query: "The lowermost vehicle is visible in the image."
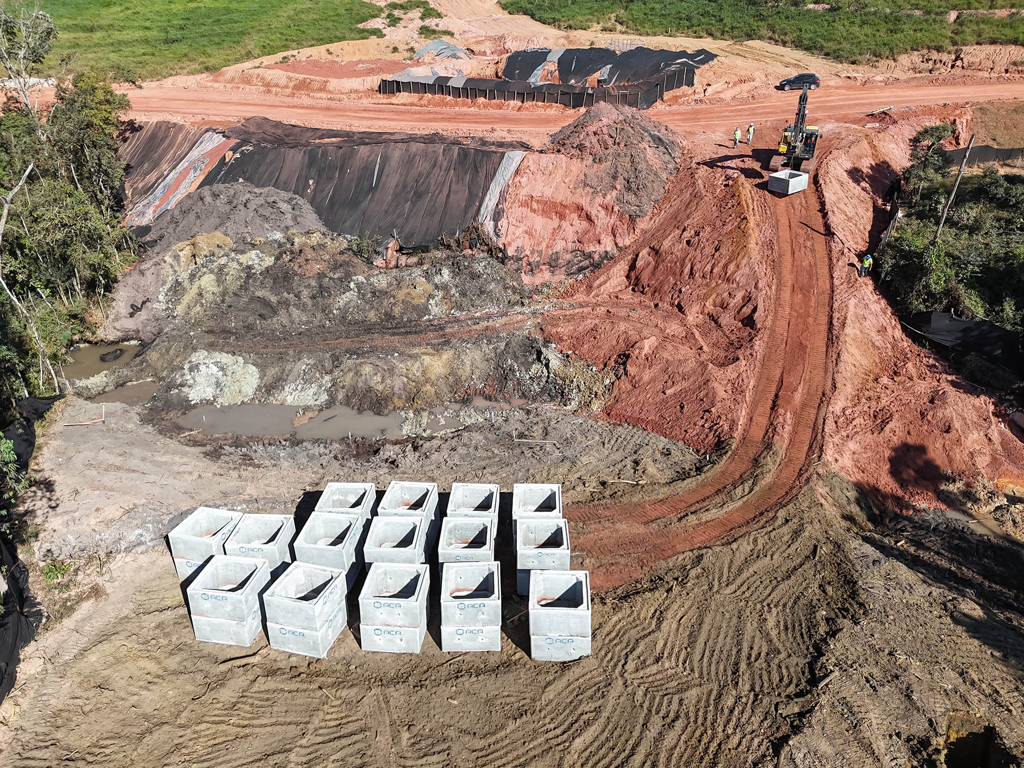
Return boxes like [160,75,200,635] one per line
[767,80,826,171]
